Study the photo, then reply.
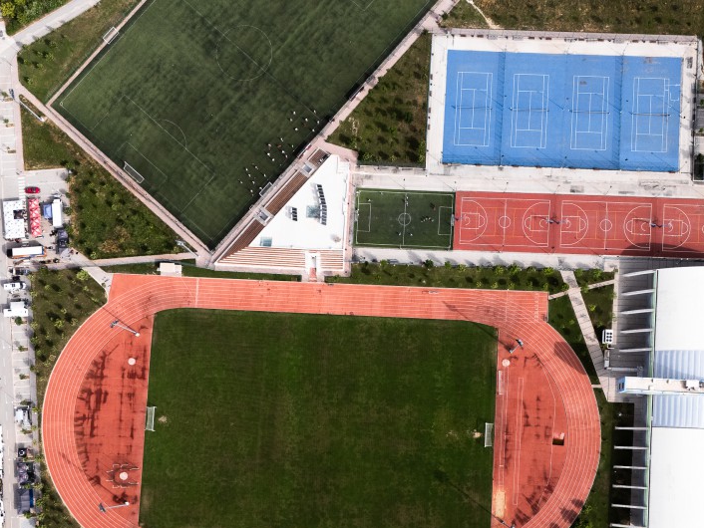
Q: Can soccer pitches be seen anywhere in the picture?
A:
Yes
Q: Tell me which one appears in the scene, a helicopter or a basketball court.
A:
basketball court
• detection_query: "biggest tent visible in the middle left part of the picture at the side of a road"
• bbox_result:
[3,200,29,240]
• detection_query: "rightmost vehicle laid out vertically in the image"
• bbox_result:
[51,198,67,229]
